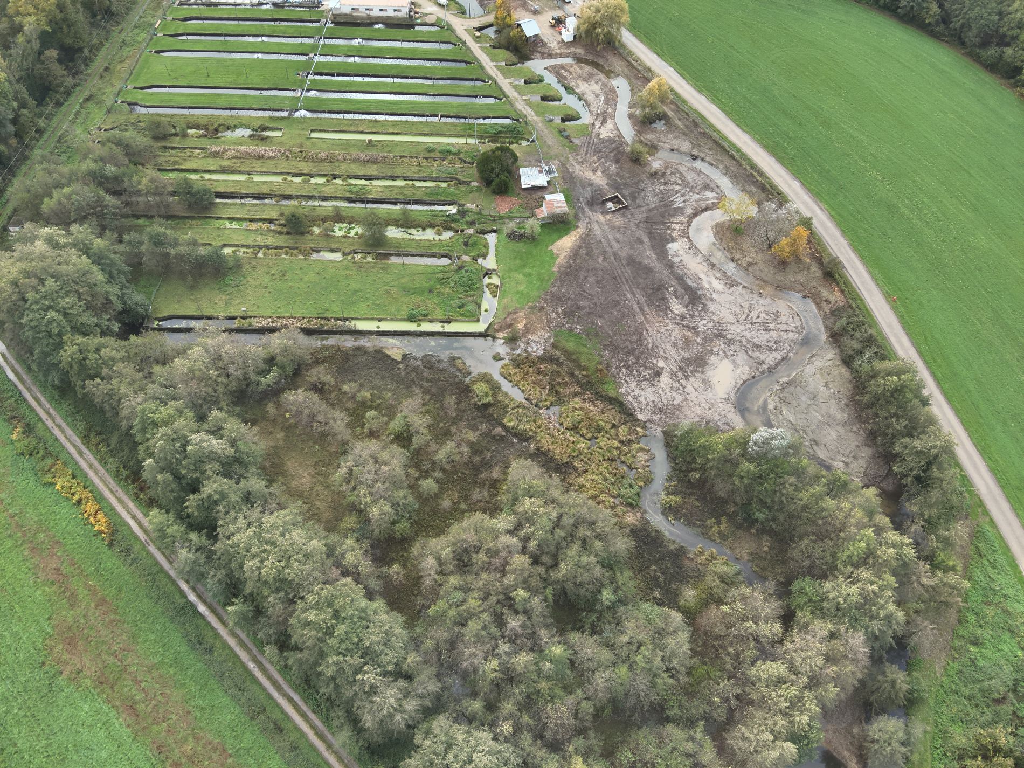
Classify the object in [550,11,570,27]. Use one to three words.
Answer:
work vehicle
